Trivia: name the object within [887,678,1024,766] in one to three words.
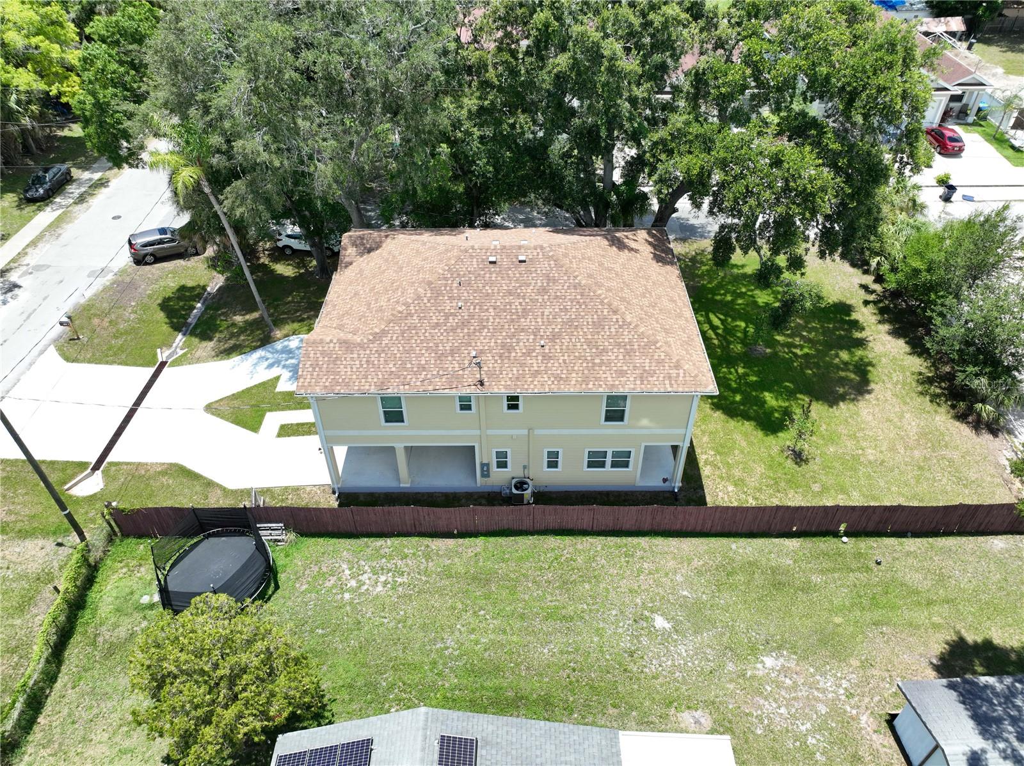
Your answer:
shed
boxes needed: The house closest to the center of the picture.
[294,227,722,507]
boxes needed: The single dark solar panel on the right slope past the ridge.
[439,732,478,766]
